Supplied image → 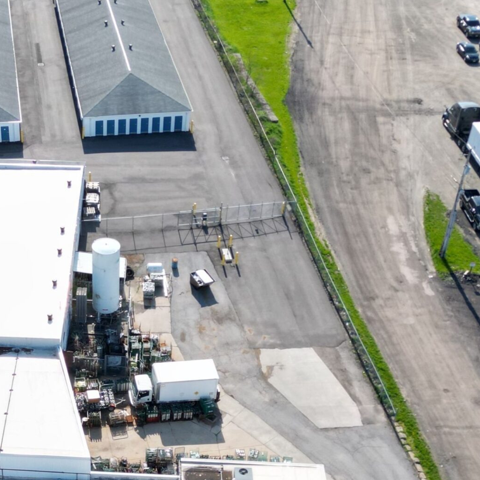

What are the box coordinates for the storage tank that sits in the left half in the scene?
[94,235,124,330]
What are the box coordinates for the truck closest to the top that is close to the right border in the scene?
[452,14,480,37]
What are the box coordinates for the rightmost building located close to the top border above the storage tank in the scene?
[55,0,194,137]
